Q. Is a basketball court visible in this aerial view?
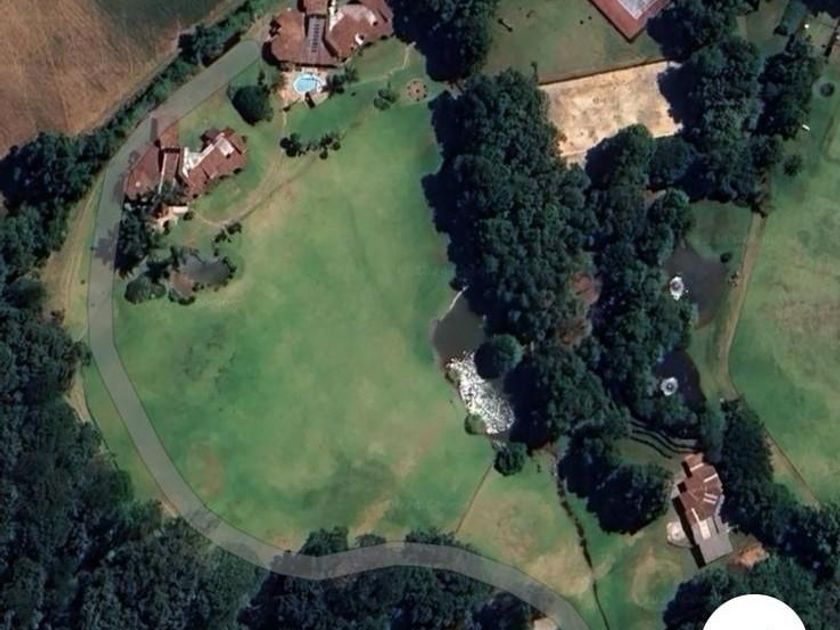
No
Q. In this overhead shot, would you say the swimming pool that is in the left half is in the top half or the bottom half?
top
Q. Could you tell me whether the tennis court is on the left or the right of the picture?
right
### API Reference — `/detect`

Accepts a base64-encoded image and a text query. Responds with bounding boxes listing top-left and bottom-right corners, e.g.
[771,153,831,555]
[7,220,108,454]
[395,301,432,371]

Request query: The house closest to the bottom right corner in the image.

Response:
[667,452,733,565]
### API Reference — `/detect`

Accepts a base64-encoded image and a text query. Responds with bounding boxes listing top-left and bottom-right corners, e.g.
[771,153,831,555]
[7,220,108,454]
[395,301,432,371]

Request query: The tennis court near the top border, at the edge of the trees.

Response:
[590,0,670,42]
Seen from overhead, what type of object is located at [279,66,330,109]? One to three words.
swimming pool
